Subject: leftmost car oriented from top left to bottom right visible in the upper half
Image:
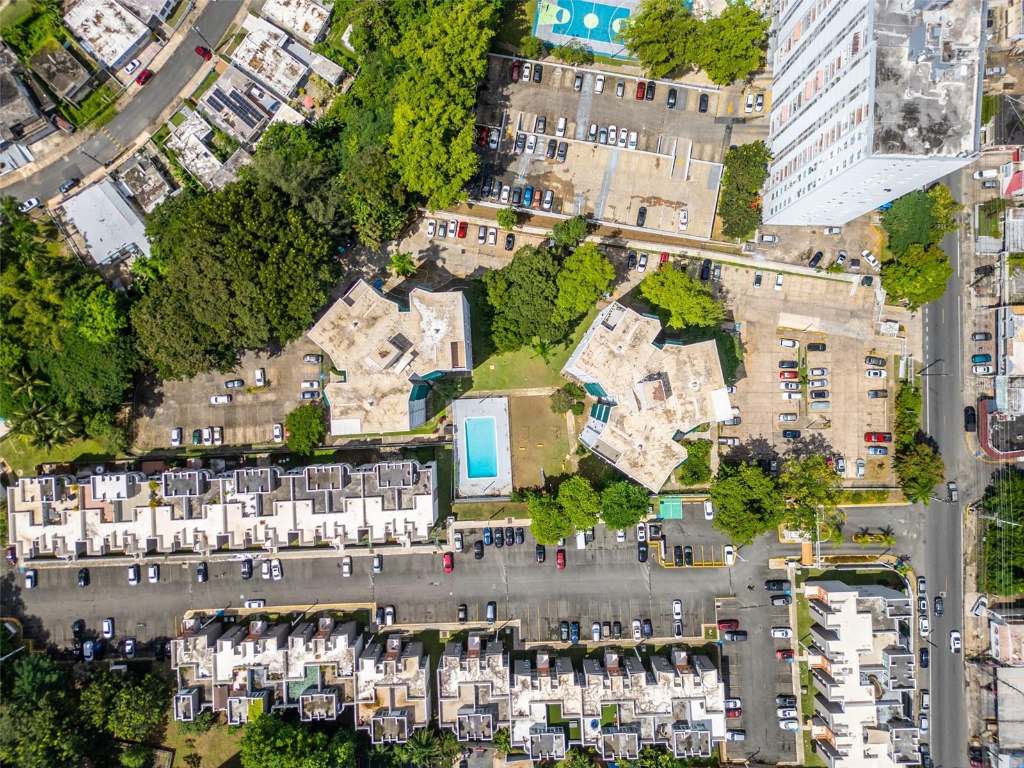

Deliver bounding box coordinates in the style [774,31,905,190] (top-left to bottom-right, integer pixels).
[52,114,73,132]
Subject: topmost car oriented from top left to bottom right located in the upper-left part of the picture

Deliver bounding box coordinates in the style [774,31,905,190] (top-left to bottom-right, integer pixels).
[194,45,213,62]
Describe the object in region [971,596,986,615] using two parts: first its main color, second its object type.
white car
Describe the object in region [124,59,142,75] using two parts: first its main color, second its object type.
white car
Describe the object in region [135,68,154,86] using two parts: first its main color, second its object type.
red car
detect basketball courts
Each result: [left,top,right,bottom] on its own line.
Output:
[521,0,660,64]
